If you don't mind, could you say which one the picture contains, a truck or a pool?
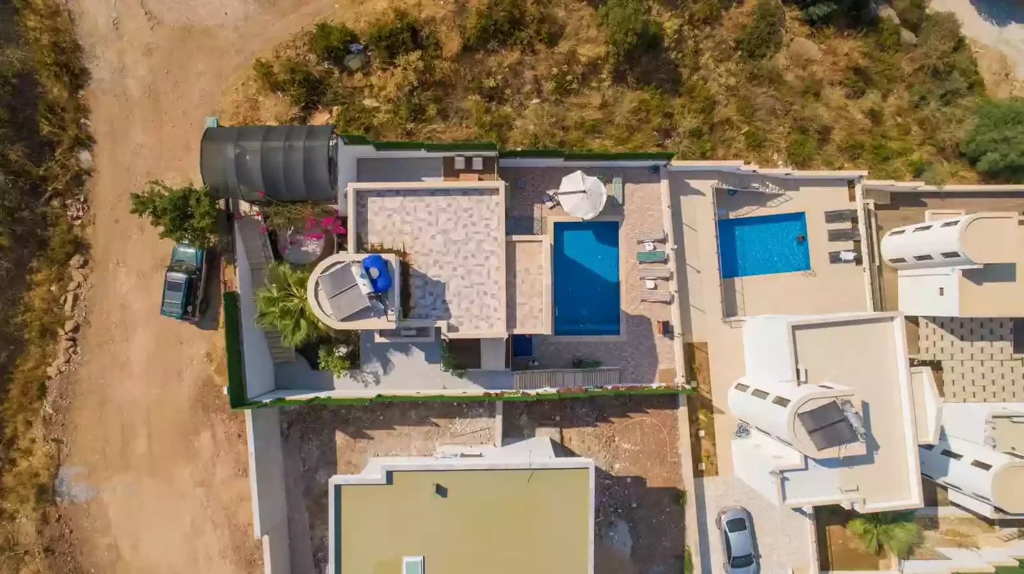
pool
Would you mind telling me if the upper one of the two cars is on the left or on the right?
left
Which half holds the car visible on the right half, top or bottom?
bottom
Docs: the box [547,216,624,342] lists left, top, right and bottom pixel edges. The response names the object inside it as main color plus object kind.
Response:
blue swimming pool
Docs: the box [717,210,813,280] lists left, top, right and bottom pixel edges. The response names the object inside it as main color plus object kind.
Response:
blue swimming pool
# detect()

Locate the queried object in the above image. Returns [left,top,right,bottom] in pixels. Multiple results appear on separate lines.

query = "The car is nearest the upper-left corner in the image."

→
[157,241,213,327]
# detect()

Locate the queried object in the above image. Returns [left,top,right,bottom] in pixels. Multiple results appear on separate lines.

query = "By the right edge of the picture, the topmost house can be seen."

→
[877,208,1024,318]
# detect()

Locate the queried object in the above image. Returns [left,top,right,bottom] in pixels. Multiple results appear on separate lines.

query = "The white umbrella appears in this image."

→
[557,168,609,221]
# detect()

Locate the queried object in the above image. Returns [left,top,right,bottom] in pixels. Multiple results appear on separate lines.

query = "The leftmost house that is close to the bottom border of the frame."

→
[328,429,594,574]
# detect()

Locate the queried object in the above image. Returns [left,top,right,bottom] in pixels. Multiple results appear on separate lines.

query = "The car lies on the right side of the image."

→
[720,507,764,574]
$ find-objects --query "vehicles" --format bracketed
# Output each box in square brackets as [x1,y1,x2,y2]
[720,507,764,574]
[157,241,213,327]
